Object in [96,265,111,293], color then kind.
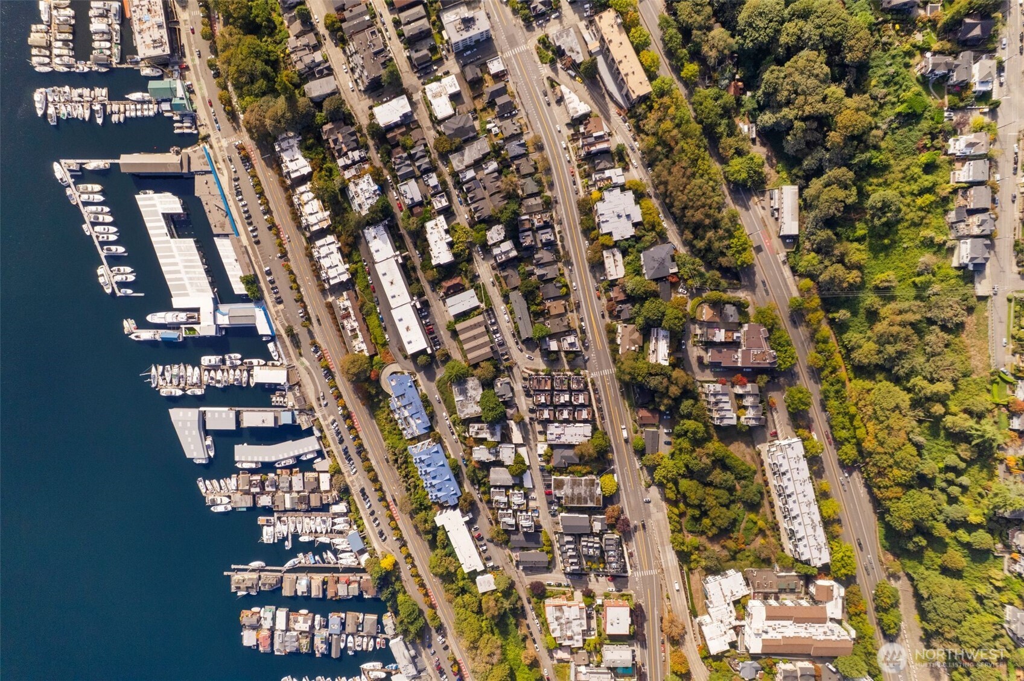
white boat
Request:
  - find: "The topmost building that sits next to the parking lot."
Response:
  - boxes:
[131,0,178,65]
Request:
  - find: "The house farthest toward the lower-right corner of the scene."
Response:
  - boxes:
[994,602,1024,646]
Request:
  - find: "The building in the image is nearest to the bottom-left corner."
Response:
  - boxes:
[171,407,212,461]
